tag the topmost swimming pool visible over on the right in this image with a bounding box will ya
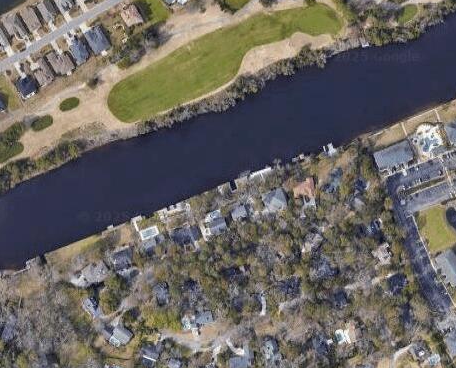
[416,123,444,156]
